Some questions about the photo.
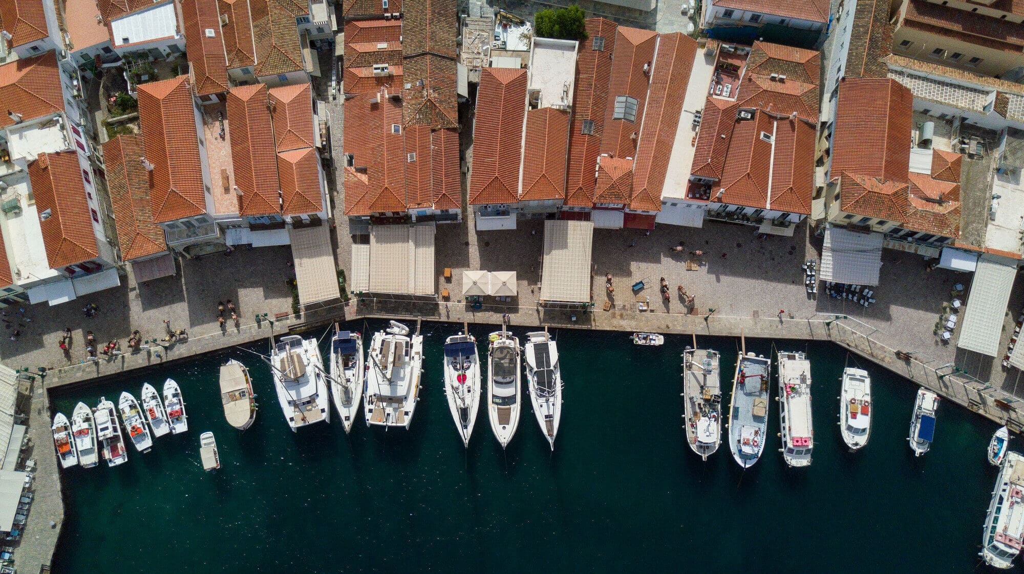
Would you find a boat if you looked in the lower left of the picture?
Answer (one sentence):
Yes, a boat is visible in the lower left of the picture.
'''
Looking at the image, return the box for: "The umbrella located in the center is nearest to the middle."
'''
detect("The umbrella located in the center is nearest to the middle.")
[490,271,517,297]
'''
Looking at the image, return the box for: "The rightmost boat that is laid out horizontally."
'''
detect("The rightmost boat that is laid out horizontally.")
[630,333,664,345]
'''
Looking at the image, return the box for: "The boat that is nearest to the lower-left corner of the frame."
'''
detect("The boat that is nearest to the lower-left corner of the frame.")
[200,432,220,473]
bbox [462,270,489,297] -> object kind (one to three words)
umbrella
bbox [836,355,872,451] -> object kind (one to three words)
boat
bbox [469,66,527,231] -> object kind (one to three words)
house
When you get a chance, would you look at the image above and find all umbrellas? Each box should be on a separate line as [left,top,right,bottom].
[462,270,489,297]
[490,271,517,297]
